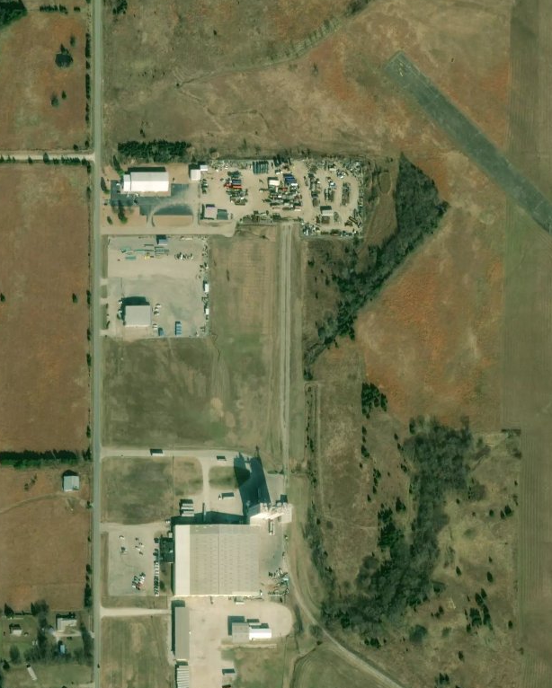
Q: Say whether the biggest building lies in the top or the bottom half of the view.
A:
bottom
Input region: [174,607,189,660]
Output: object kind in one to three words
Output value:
shed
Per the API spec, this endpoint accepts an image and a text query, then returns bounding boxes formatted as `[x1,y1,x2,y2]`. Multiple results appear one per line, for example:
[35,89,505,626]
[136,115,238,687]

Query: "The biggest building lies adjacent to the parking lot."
[173,525,260,596]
